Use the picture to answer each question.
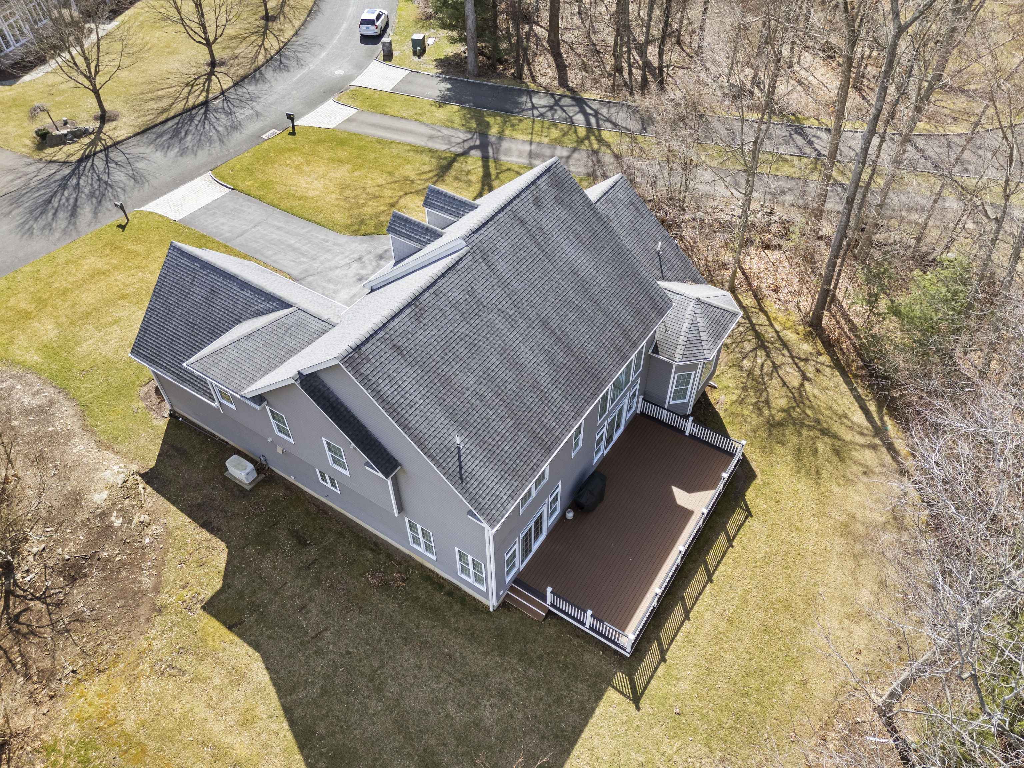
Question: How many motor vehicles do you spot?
one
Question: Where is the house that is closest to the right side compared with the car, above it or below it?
below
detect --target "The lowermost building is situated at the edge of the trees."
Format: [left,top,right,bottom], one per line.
[126,157,745,613]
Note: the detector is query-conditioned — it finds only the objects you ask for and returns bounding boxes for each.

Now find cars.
[359,9,391,39]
